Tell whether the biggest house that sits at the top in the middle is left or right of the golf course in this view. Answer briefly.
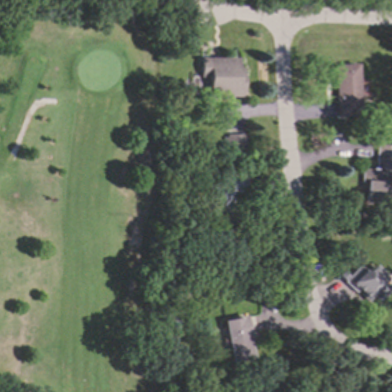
right of it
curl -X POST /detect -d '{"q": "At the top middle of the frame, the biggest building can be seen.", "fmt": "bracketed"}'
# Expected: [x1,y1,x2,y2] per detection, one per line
[204,56,249,96]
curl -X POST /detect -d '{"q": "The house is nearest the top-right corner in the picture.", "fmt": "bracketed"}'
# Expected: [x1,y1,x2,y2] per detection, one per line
[340,63,366,100]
